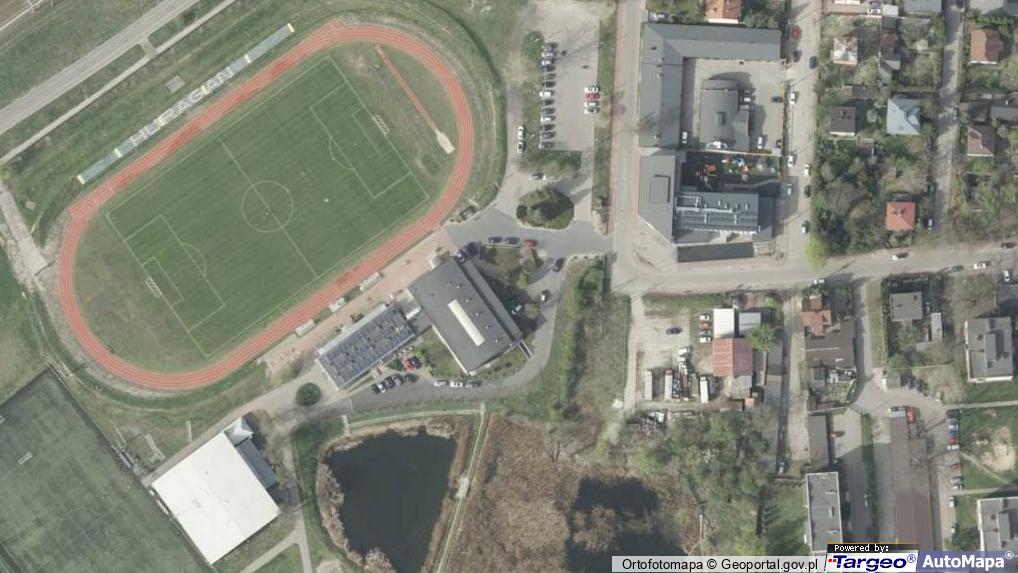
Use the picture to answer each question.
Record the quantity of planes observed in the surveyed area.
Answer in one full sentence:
Not a single plane can be seen.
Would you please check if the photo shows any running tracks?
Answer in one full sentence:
Yes, the frame does contain a running track.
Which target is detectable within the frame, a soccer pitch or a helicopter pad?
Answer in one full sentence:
It is a soccer pitch that can be seen here.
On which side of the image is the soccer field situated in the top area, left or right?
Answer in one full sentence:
You can find the soccer field situated in the top area on the left side of the picture.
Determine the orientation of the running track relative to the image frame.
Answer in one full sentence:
From this overhead view, the running track appears to run on a diagonal.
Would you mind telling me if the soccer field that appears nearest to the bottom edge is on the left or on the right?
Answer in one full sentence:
The soccer field that appears nearest to the bottom edge is on the left side of the image.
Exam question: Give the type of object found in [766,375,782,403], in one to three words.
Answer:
shed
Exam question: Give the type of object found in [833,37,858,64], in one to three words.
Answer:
house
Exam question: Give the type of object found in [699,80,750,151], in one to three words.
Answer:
building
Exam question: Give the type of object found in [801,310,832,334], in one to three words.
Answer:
house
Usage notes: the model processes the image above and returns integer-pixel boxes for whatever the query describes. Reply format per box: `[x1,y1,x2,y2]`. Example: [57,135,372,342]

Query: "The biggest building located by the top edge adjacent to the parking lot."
[638,22,780,150]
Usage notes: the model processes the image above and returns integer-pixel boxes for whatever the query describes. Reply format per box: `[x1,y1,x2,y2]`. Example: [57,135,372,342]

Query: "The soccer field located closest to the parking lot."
[101,53,434,362]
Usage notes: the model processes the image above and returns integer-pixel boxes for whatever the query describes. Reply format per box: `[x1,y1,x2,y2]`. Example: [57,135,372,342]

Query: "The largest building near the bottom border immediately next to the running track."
[152,433,280,565]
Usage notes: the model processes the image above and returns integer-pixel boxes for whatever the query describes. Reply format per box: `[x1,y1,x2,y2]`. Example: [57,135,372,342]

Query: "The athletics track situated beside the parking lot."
[58,18,478,390]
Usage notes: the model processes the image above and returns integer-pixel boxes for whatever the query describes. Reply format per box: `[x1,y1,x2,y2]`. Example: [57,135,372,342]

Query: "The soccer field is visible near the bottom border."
[0,366,207,573]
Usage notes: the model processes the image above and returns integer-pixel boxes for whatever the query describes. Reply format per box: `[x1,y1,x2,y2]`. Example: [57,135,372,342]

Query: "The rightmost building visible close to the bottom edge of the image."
[975,498,1018,568]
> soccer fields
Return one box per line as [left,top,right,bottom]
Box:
[0,366,207,573]
[101,53,434,362]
